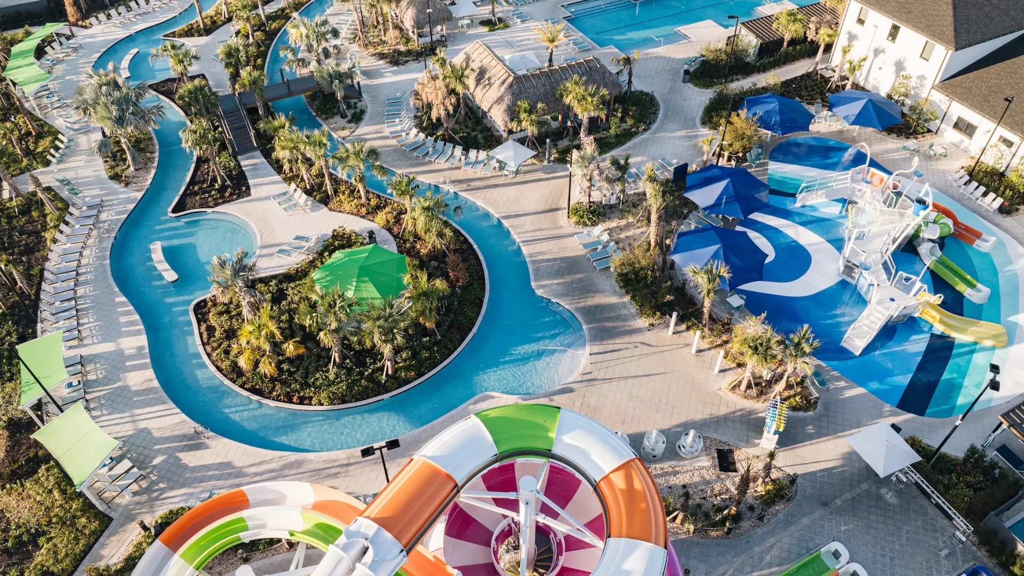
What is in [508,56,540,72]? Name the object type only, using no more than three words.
umbrella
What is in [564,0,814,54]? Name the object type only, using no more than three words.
swimming pool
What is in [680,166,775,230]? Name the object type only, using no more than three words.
umbrella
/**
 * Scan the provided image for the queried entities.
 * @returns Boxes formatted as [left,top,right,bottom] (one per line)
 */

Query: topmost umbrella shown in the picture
[444,1,487,41]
